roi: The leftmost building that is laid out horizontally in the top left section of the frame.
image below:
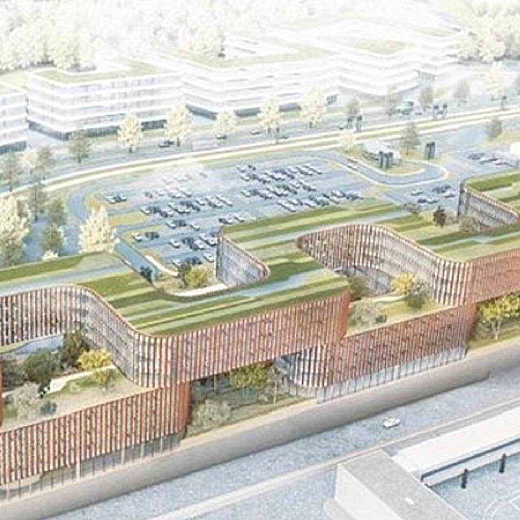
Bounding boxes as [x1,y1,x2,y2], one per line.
[30,59,182,135]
